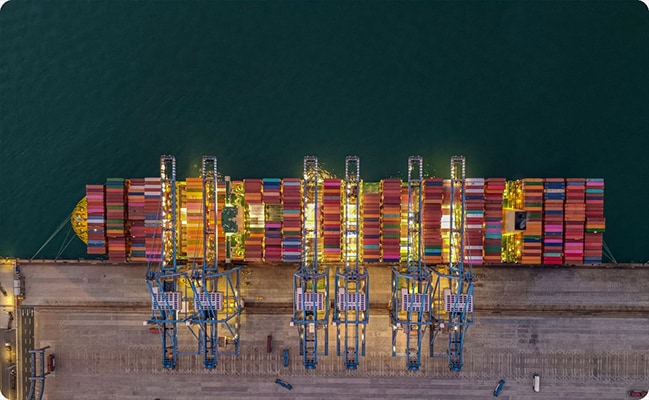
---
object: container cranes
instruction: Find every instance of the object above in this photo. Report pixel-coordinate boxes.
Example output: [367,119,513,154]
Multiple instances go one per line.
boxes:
[328,154,373,373]
[143,153,207,372]
[423,154,480,374]
[184,153,245,373]
[383,154,436,373]
[286,153,331,373]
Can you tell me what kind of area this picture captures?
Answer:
port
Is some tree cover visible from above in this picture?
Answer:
No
